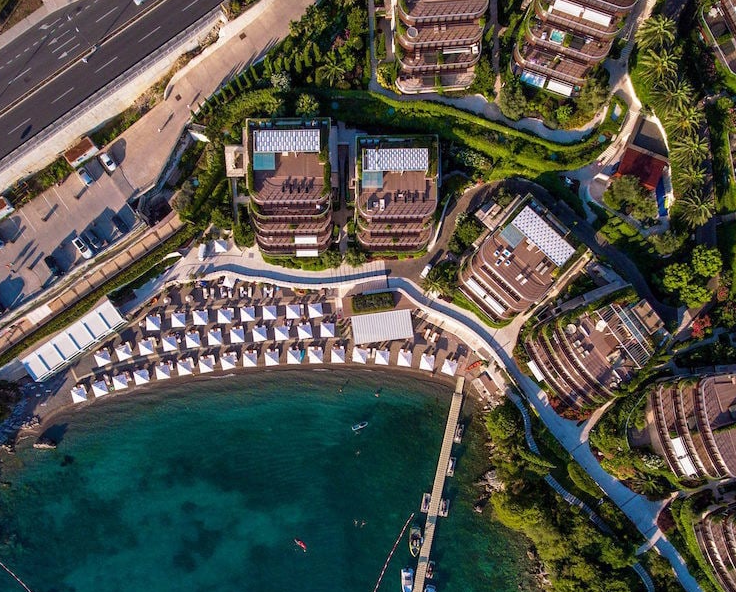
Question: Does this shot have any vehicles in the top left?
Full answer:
Yes, a vehicle is visible in the top left.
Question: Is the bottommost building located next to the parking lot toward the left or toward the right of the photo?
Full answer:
It is on the left.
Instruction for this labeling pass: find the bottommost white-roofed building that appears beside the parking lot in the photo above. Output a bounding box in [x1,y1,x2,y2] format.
[21,299,129,382]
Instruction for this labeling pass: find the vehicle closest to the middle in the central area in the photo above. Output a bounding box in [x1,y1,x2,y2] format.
[417,260,435,281]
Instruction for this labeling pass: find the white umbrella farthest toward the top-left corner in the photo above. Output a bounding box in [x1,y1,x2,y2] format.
[213,239,228,254]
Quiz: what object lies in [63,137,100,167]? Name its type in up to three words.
building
